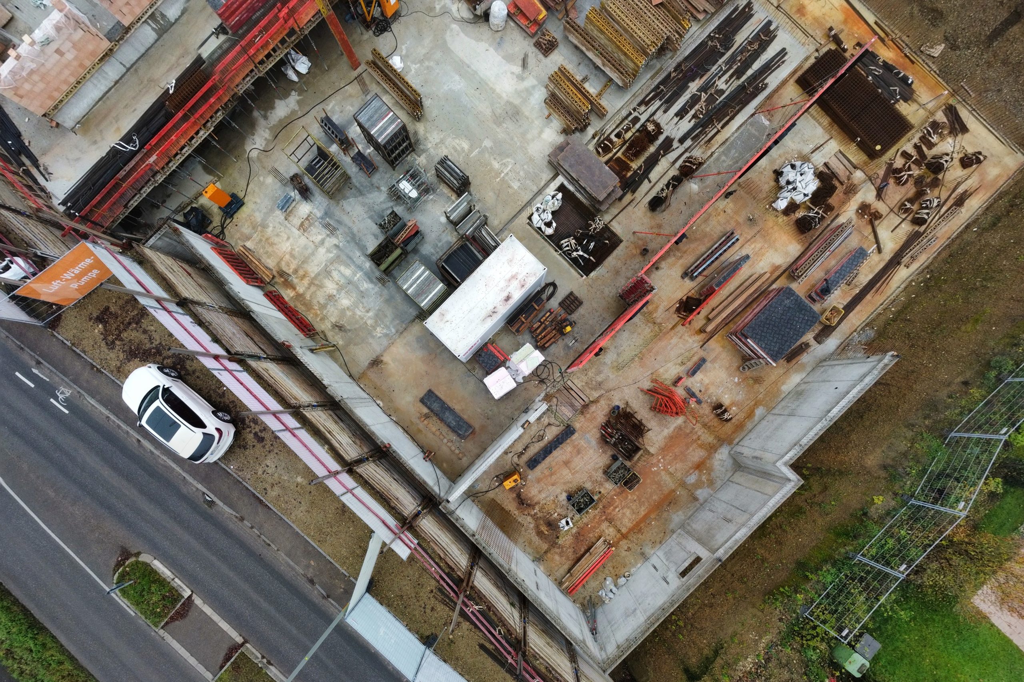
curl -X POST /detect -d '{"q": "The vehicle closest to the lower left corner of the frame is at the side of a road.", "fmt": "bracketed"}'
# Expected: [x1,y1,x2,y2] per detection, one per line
[119,361,243,467]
